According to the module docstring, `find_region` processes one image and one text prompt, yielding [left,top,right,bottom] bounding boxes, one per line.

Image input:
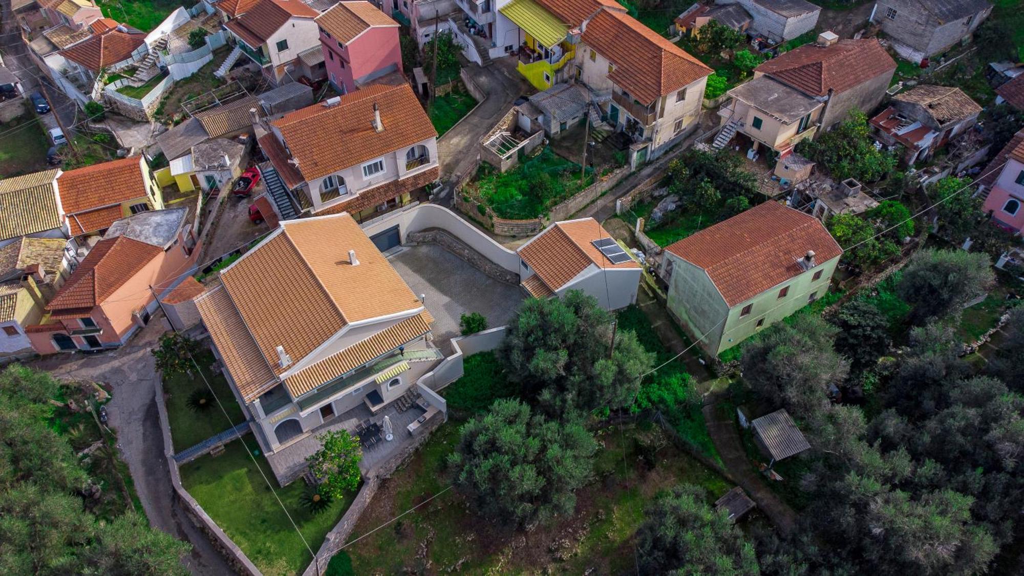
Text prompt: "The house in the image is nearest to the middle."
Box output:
[516,216,642,324]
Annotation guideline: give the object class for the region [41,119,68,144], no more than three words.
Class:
car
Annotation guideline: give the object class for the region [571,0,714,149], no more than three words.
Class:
house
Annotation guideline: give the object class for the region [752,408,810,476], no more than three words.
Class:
shed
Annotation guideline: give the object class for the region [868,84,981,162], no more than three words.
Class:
barn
